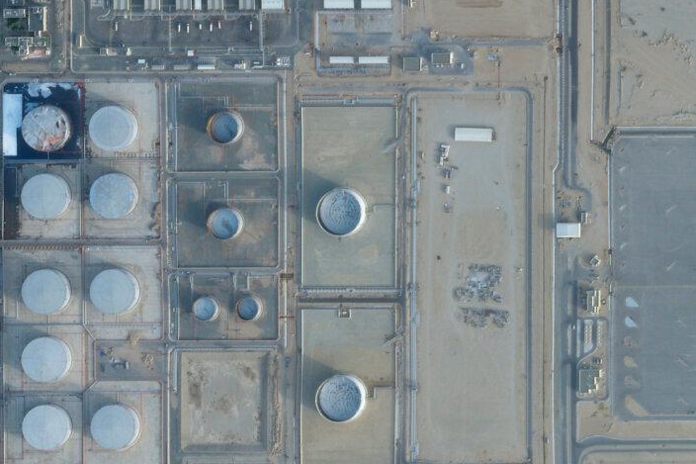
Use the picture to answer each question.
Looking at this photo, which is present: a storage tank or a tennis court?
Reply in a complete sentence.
There is a storage tank in the scene.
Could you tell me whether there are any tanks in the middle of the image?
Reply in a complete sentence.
Yes, a tank is visible in the middle of the image.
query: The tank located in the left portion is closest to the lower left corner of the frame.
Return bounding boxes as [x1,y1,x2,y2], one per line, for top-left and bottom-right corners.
[21,404,73,454]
